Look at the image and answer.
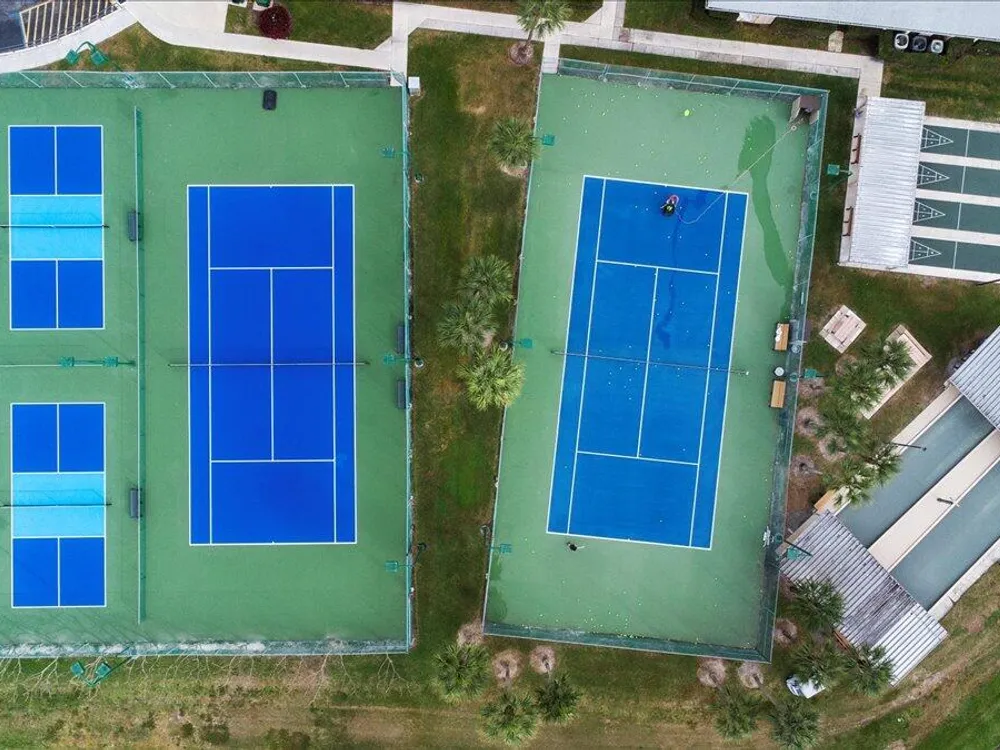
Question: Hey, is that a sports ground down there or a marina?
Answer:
sports ground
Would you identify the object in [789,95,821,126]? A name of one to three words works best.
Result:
shed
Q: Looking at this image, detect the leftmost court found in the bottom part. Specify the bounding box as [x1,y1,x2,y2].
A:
[0,364,146,644]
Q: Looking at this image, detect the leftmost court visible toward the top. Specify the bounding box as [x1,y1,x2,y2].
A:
[0,87,144,365]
